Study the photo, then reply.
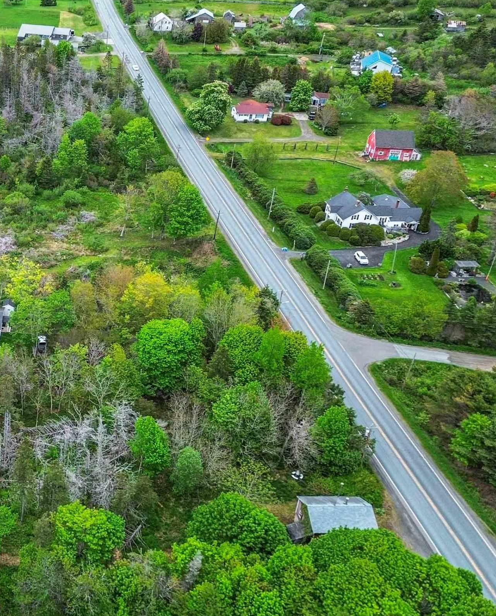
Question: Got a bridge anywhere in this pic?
No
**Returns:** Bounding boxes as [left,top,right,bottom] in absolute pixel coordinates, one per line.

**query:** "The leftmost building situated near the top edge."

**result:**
[16,22,79,47]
